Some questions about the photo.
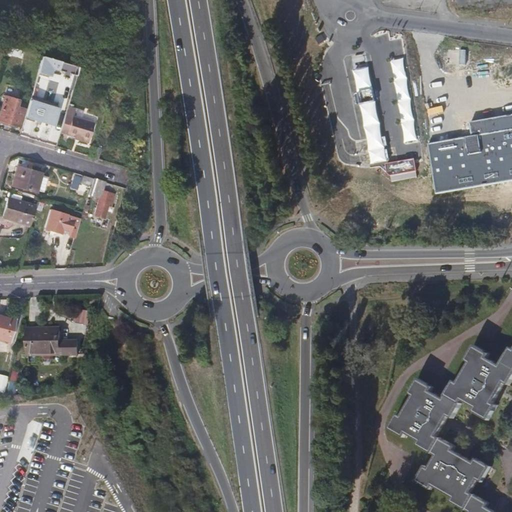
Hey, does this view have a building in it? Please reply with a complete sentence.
Yes, the picture does show a building.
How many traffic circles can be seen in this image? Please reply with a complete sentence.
In total, there are 2 traffic circles in the scene.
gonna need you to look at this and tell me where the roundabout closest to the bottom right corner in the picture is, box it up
[266,228,340,302]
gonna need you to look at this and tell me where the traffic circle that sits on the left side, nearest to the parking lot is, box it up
[117,246,192,321]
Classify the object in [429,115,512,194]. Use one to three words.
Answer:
building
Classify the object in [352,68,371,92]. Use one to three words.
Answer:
tent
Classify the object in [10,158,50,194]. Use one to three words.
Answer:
house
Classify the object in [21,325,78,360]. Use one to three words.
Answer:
house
